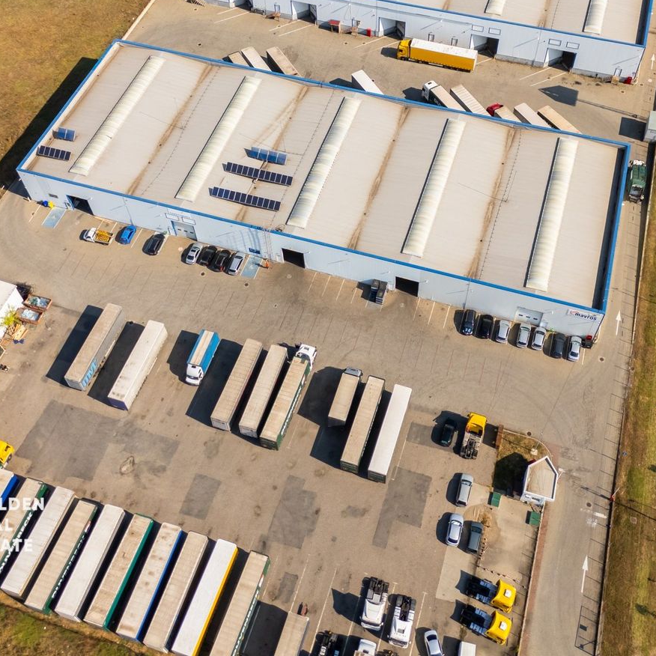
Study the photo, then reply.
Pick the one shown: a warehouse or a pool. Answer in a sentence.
The one in the frame is a warehouse.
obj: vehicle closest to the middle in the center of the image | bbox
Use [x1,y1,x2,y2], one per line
[296,340,321,383]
